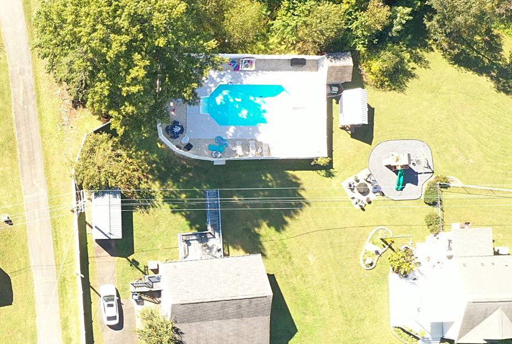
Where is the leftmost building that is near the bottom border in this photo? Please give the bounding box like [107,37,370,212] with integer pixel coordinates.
[159,254,277,344]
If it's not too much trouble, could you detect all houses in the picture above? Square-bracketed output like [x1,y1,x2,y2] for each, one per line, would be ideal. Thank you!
[159,254,277,344]
[412,224,512,344]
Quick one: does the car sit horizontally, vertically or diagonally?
vertically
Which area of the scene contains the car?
bottom left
